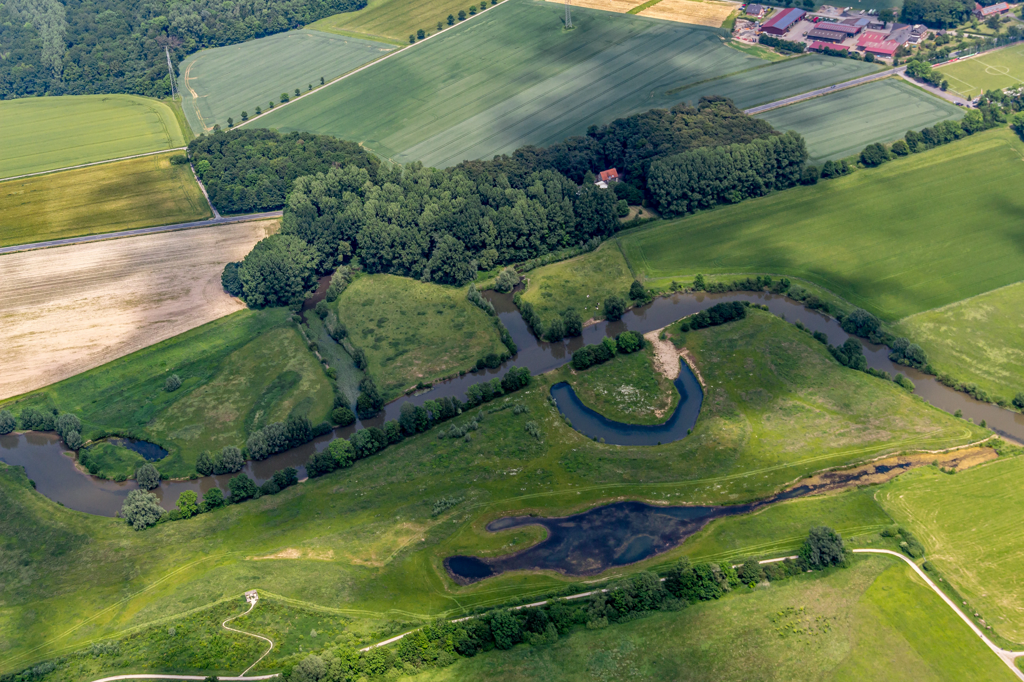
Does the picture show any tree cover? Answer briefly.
Yes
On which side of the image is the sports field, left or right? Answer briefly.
right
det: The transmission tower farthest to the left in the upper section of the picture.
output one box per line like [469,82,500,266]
[166,47,181,100]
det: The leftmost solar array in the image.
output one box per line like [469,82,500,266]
[772,6,805,29]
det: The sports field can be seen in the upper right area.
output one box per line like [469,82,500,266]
[935,44,1024,97]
